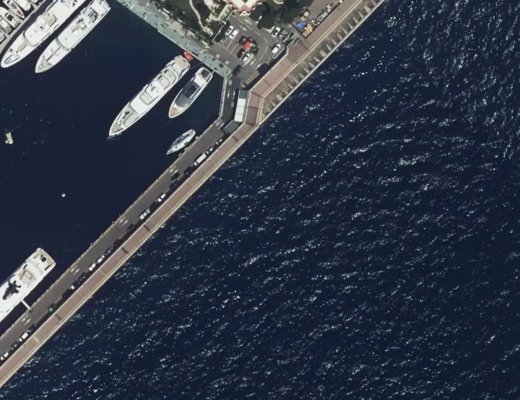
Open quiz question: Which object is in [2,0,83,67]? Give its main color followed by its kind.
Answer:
white boat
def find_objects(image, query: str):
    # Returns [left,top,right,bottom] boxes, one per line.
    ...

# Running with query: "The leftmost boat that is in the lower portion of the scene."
[0,249,53,320]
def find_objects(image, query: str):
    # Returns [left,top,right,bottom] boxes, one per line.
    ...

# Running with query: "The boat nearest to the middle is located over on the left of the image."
[166,129,196,155]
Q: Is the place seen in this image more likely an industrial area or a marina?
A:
marina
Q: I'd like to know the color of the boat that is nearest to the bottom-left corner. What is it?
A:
white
